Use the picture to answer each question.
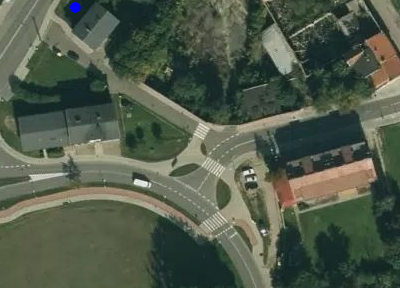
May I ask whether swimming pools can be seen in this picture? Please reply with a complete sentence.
No, the scene contains no swimming pool.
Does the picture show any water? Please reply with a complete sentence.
No, there is no water in the image.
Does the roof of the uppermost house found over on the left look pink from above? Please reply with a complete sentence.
No, from above the roof of the uppermost house found over on the left looks gray.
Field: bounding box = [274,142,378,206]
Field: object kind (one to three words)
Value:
house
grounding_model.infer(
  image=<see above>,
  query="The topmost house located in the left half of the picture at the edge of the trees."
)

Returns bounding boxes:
[72,4,119,50]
